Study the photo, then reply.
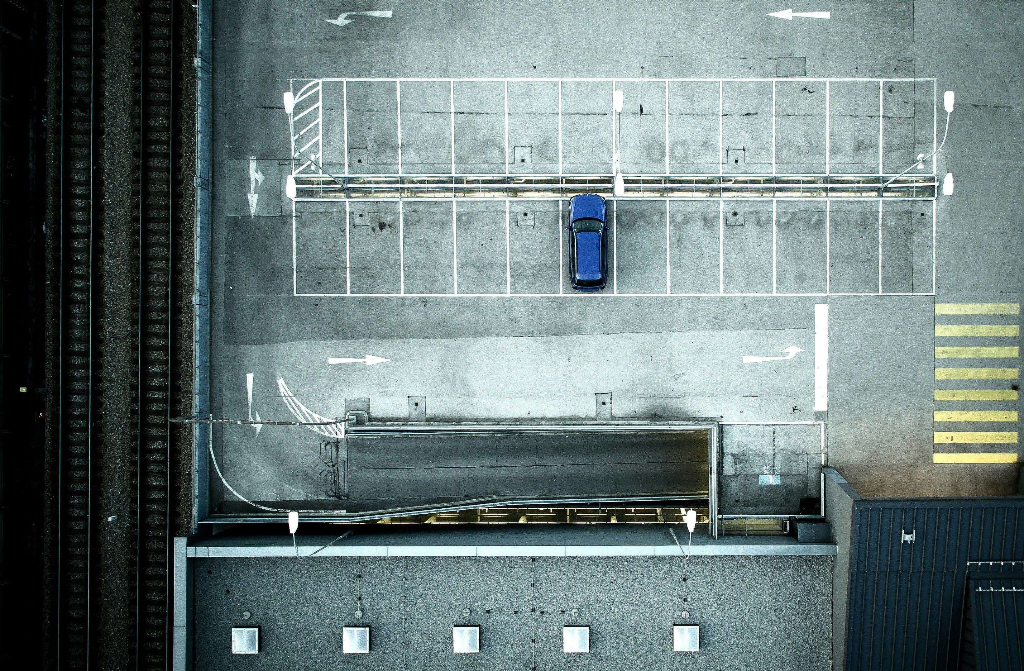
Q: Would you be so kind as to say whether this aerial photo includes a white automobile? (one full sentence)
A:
No, no white automobile is visible in the scene.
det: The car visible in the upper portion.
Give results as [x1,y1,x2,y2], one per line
[565,193,611,294]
